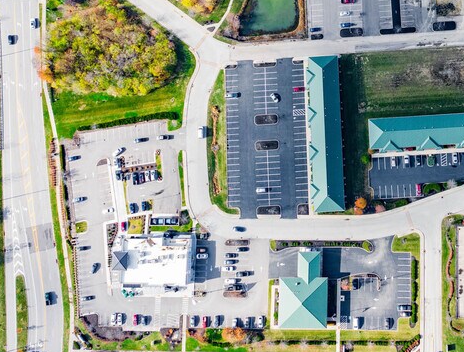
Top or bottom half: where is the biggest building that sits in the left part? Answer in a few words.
bottom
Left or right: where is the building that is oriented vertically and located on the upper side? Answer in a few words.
right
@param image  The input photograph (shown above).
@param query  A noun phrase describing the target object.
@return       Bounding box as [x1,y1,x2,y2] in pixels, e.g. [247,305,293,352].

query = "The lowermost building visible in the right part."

[279,252,329,329]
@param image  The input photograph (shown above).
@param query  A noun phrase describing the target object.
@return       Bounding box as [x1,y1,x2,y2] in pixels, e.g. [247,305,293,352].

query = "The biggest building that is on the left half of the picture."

[112,235,198,292]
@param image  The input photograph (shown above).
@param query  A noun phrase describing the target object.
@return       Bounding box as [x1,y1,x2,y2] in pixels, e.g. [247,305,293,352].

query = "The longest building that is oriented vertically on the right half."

[305,57,345,213]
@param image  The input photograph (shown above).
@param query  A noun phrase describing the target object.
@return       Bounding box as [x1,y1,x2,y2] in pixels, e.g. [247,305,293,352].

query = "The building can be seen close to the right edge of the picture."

[369,113,464,153]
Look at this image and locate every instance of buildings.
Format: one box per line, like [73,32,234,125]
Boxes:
[369,113,464,153]
[112,235,198,292]
[279,252,329,329]
[305,57,345,213]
